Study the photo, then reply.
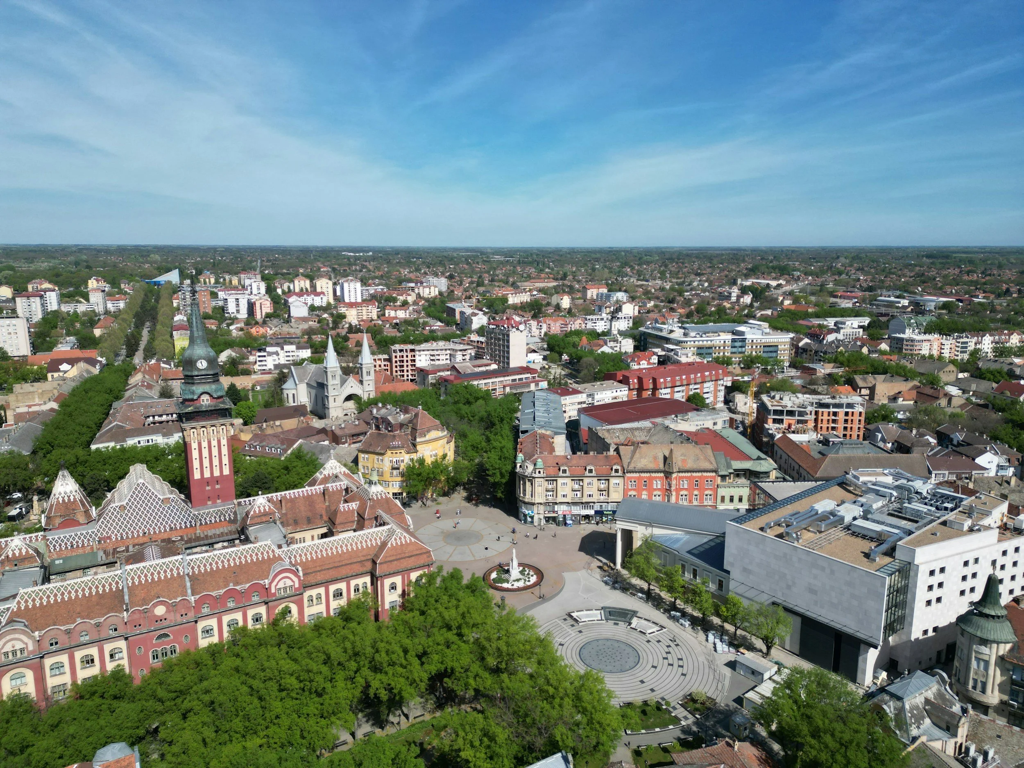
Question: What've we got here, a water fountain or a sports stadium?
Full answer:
There is a water fountain in the scene.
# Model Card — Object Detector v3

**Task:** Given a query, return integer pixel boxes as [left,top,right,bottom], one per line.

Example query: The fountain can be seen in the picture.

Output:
[579,638,640,673]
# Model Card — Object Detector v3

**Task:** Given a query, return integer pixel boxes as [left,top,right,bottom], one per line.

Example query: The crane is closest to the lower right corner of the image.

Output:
[721,366,867,439]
